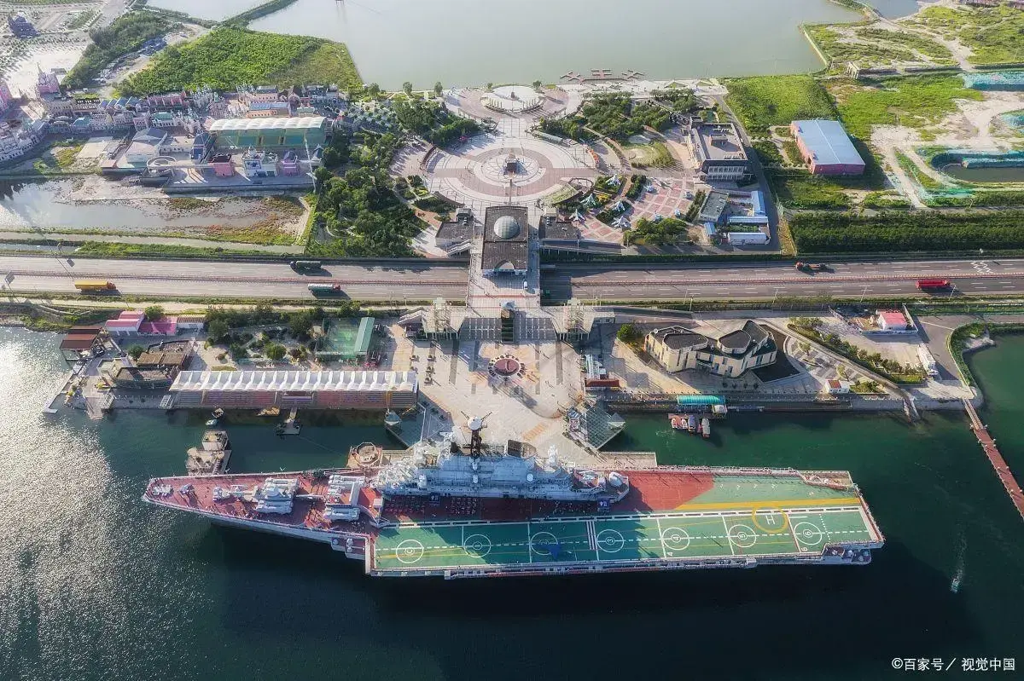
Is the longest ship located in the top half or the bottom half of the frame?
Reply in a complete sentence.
You can find the longest ship in the bottom half.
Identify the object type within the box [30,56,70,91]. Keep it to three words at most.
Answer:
building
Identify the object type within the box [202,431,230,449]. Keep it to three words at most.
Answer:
boat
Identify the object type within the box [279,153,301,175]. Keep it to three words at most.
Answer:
house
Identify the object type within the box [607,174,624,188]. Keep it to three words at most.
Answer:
airplane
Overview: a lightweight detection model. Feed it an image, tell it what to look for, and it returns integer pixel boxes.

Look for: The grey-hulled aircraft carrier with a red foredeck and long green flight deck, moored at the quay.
[142,413,884,582]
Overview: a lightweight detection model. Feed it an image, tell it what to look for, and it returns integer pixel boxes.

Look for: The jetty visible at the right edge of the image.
[961,399,1024,522]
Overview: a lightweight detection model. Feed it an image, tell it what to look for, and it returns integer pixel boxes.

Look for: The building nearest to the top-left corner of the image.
[4,15,40,40]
